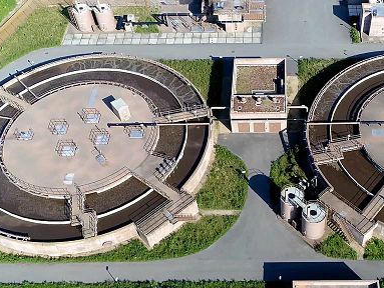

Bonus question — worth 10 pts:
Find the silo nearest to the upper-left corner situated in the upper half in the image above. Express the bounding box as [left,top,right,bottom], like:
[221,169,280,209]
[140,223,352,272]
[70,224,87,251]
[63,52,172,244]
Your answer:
[72,0,98,30]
